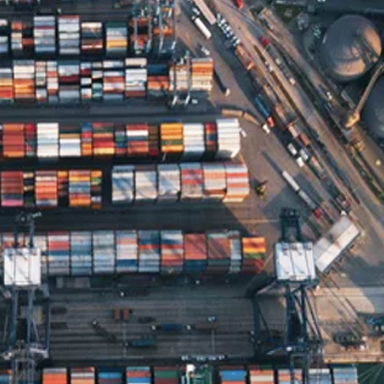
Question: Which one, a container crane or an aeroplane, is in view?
container crane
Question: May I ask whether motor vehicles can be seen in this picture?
Yes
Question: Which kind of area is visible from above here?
industrial area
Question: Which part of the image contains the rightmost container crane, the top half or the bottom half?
bottom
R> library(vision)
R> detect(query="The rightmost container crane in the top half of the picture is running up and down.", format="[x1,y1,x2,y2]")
[168,51,191,108]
